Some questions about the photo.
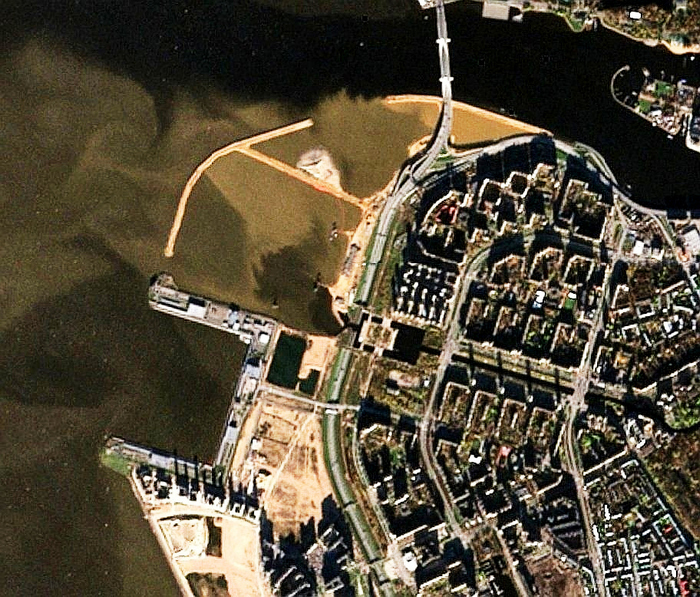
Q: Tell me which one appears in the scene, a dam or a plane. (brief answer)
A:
dam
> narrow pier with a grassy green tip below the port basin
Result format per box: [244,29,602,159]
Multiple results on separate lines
[101,436,216,477]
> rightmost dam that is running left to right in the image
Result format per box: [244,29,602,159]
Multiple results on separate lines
[388,94,549,133]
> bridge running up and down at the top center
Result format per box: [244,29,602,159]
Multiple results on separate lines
[394,0,455,201]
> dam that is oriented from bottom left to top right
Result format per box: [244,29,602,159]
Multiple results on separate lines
[166,118,313,256]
